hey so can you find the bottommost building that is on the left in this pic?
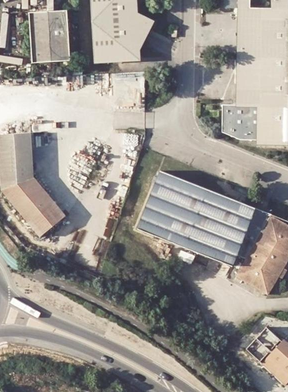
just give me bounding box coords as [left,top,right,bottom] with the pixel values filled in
[0,133,65,236]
